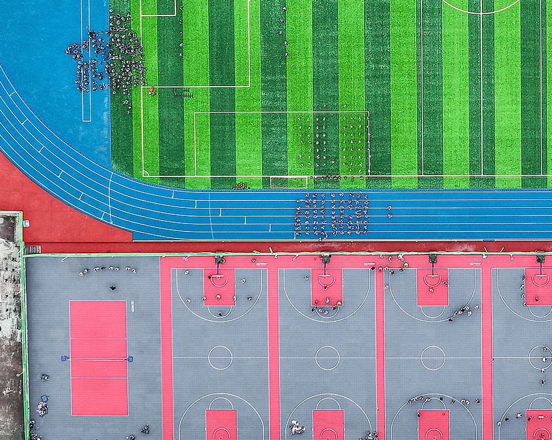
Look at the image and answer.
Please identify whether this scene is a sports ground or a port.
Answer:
sports ground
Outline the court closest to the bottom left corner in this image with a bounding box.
[70,301,128,416]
